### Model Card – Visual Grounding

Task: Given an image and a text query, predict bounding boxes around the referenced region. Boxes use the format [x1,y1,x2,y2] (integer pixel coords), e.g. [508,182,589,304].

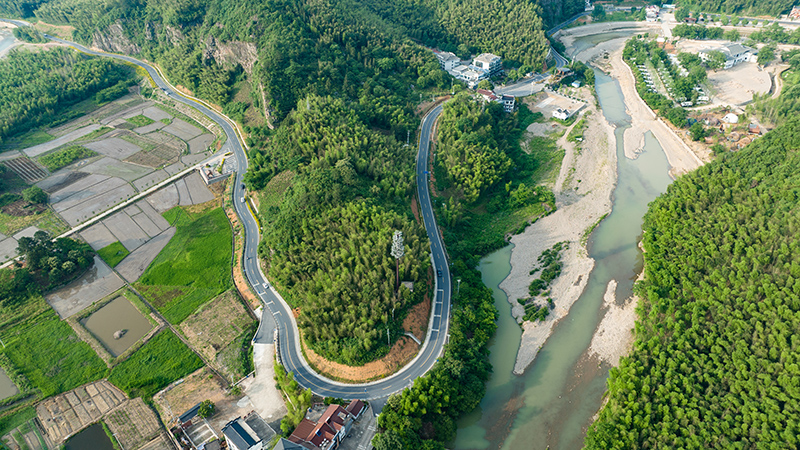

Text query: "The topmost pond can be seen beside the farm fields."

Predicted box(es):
[74,291,159,362]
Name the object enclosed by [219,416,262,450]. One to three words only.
house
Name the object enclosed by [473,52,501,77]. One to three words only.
building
